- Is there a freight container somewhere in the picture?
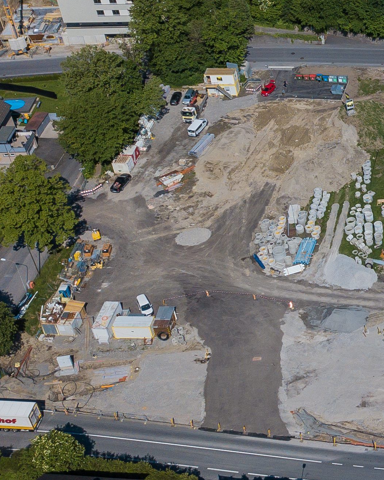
Yes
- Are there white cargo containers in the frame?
Yes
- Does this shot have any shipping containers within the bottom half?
Yes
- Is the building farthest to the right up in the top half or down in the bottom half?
top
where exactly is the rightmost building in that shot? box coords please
[201,70,241,98]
